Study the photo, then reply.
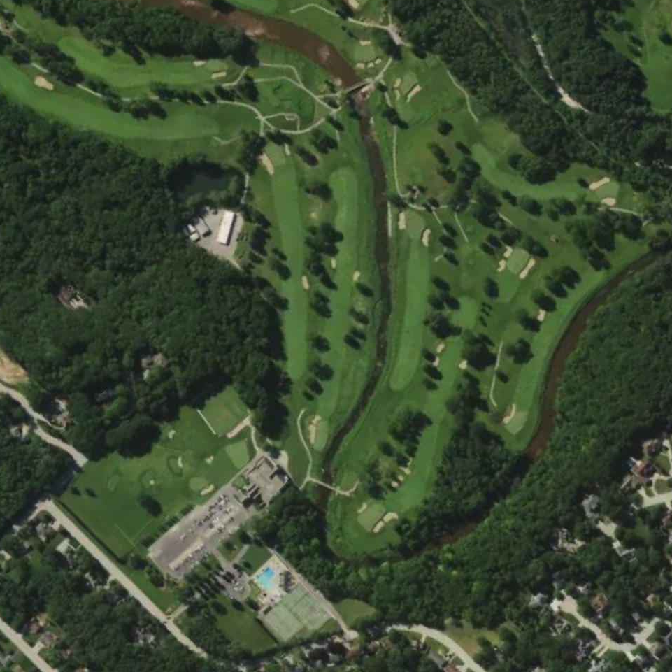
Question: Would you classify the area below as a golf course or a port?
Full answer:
This image shows a golf course.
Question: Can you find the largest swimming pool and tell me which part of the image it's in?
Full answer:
The largest swimming pool is in the bottom part of the image.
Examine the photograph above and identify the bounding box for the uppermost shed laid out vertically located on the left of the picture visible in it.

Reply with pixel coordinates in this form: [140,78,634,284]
[217,211,234,244]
